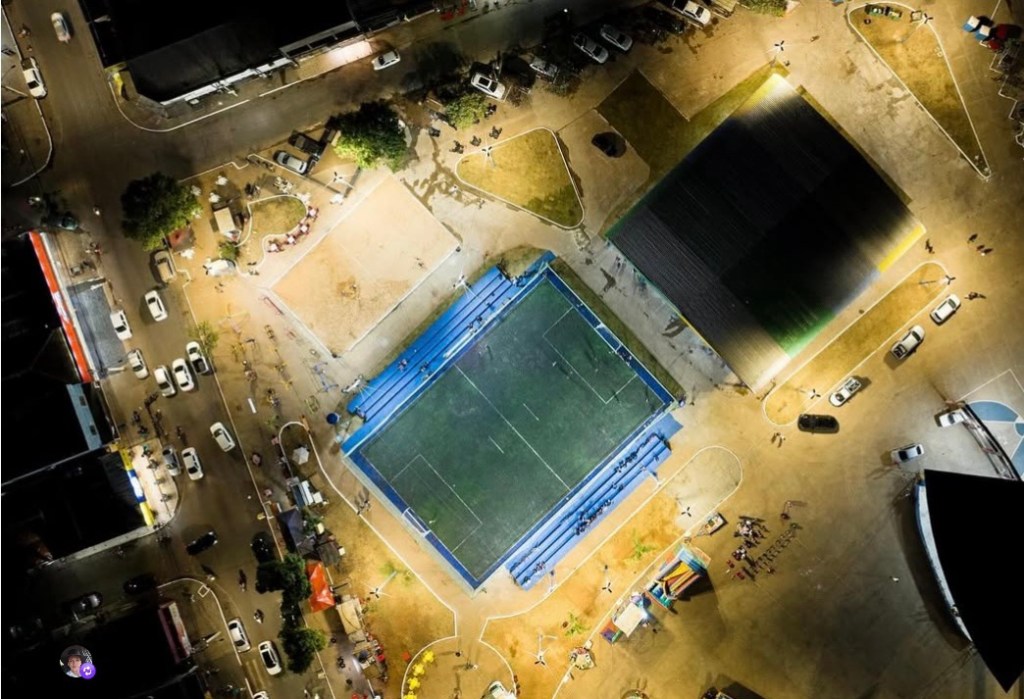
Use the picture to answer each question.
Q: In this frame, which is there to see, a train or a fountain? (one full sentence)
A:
The one in the frame is a train.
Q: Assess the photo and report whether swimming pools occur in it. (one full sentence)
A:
No, there appears to be no swimming pool in this shot.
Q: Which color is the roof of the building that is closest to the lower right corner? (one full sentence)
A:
The roof of the building that is closest to the lower right corner is black.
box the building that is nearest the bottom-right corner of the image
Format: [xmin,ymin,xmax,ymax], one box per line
[907,470,1024,692]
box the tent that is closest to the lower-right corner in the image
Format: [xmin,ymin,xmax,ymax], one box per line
[610,600,648,639]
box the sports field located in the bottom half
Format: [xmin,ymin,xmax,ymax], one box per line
[340,262,679,596]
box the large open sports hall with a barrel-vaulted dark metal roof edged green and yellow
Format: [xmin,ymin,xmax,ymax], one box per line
[604,73,925,394]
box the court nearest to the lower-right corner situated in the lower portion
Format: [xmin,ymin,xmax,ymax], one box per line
[956,368,1024,485]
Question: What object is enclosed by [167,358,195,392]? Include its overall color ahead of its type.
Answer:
white car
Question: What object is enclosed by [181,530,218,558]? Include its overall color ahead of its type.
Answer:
black car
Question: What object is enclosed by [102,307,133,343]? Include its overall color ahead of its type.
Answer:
white car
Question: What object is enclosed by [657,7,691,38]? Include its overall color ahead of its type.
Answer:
black car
